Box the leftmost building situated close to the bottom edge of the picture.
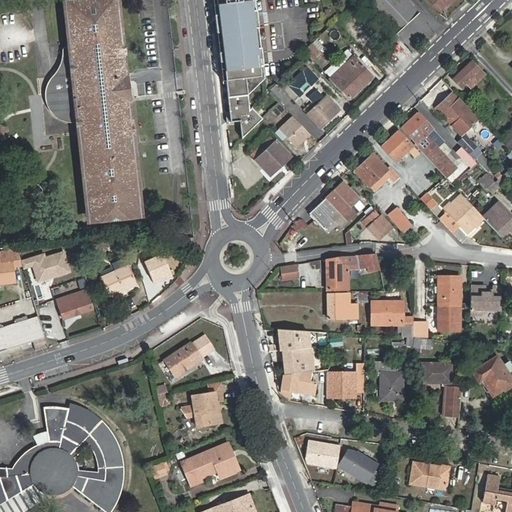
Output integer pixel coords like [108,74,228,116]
[0,403,123,512]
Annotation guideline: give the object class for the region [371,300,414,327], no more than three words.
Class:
house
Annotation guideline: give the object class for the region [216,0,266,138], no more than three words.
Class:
building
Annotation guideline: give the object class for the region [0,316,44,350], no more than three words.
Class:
building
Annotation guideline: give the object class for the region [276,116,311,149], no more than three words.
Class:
house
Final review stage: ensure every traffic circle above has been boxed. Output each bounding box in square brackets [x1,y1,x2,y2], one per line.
[192,211,270,302]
